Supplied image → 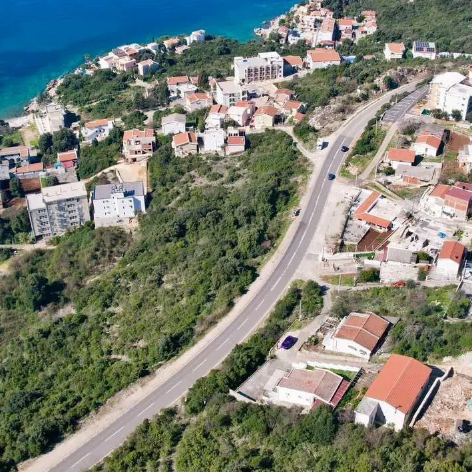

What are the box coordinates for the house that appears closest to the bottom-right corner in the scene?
[355,355,430,432]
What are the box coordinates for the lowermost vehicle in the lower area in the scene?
[279,335,297,350]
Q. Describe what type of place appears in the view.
residential area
